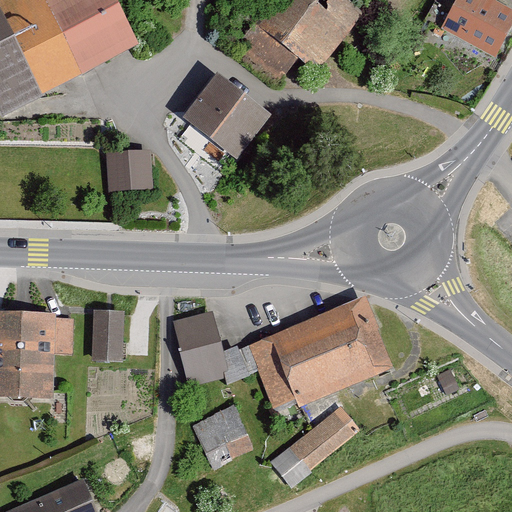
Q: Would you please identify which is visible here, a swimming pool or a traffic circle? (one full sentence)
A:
Visible in the photo is a traffic circle.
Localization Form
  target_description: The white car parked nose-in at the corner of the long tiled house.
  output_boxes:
[44,295,61,316]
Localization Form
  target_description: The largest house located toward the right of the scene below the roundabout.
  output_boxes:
[248,296,394,409]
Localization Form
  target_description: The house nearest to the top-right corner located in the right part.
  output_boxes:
[443,0,512,56]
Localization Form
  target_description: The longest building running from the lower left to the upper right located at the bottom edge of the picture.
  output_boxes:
[271,408,360,488]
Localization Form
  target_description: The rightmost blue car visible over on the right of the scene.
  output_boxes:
[310,291,324,310]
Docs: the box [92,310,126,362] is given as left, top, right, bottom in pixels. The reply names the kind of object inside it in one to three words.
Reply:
shed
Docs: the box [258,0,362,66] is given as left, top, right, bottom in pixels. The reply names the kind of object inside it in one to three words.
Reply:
house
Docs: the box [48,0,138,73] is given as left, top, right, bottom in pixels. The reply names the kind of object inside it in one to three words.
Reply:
barn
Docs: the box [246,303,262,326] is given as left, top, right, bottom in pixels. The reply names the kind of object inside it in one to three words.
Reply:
car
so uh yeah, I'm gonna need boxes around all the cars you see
[8,238,28,248]
[246,303,262,326]
[264,302,279,326]
[44,295,61,316]
[228,78,250,94]
[310,291,324,310]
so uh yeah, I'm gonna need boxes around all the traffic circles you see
[330,175,454,299]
